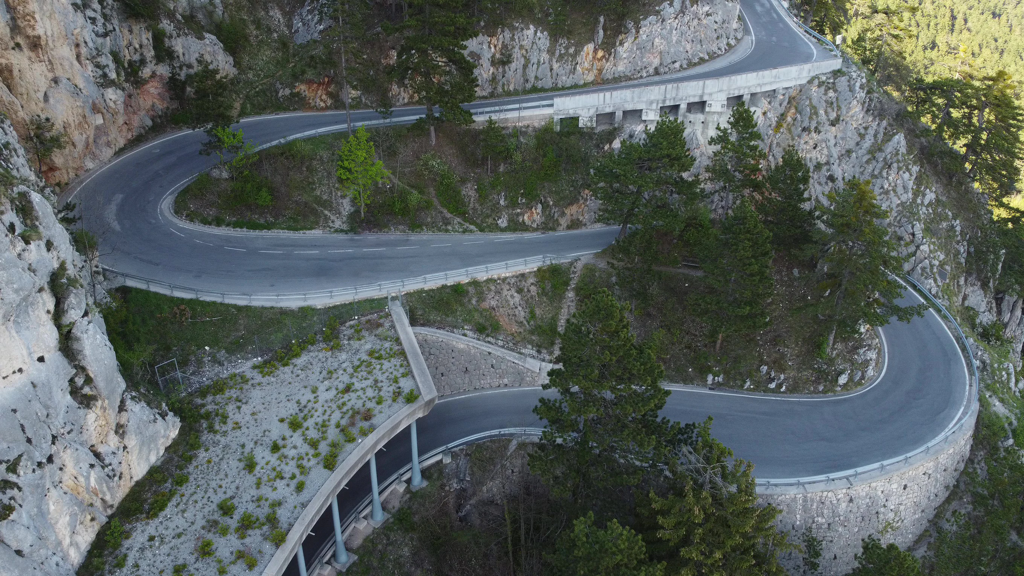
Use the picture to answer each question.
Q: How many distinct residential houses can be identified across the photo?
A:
0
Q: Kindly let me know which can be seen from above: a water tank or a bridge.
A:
bridge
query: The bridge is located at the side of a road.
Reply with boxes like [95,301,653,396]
[555,57,842,147]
